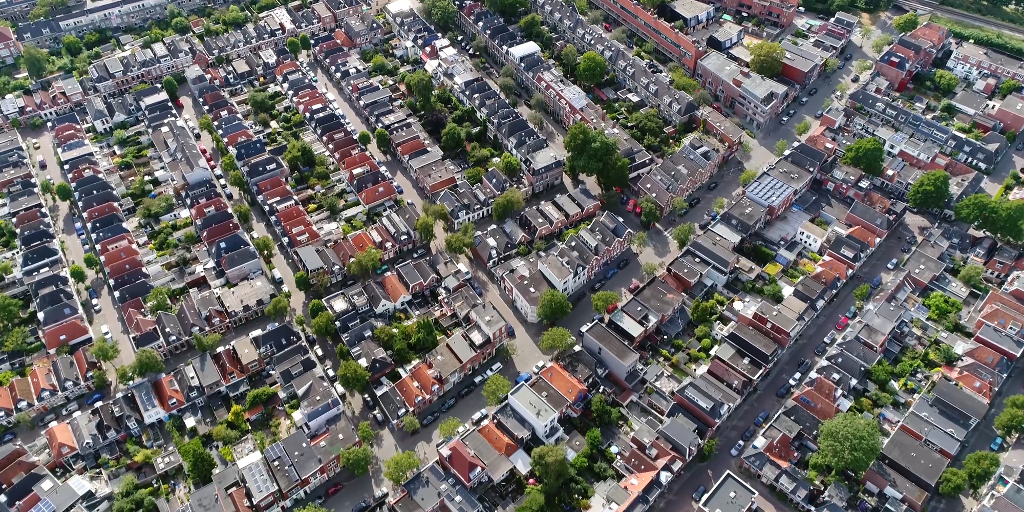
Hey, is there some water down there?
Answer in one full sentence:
No, there's no water in this view.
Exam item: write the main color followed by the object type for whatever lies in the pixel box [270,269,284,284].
white vehicle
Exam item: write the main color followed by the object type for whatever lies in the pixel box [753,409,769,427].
blue car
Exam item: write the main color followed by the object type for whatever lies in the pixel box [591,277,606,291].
black car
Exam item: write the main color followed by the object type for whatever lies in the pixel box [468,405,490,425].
white vehicle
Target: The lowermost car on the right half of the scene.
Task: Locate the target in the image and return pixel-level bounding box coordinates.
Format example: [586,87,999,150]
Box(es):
[691,484,707,502]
